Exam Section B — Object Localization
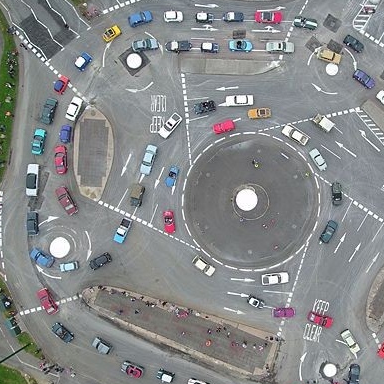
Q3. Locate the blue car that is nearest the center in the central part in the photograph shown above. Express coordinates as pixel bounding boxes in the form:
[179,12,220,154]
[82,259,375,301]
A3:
[166,164,179,188]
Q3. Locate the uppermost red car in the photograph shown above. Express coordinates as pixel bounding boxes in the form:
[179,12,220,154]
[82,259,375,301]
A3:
[254,10,282,24]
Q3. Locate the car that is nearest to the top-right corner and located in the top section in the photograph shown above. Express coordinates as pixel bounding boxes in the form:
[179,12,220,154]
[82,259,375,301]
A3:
[340,33,366,54]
